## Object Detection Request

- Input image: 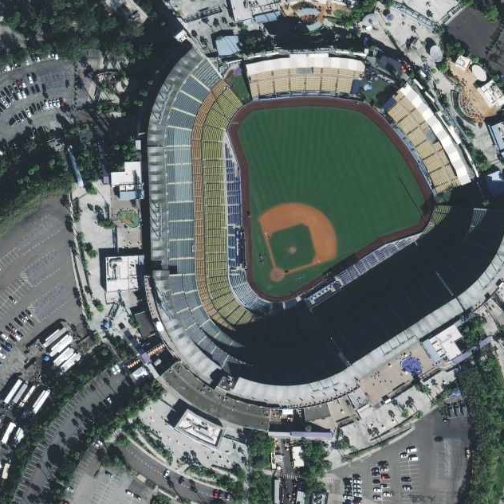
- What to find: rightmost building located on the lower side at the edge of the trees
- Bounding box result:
[422,326,462,362]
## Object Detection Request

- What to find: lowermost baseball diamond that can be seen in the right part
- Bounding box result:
[227,97,435,303]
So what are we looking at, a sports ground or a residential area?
sports ground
